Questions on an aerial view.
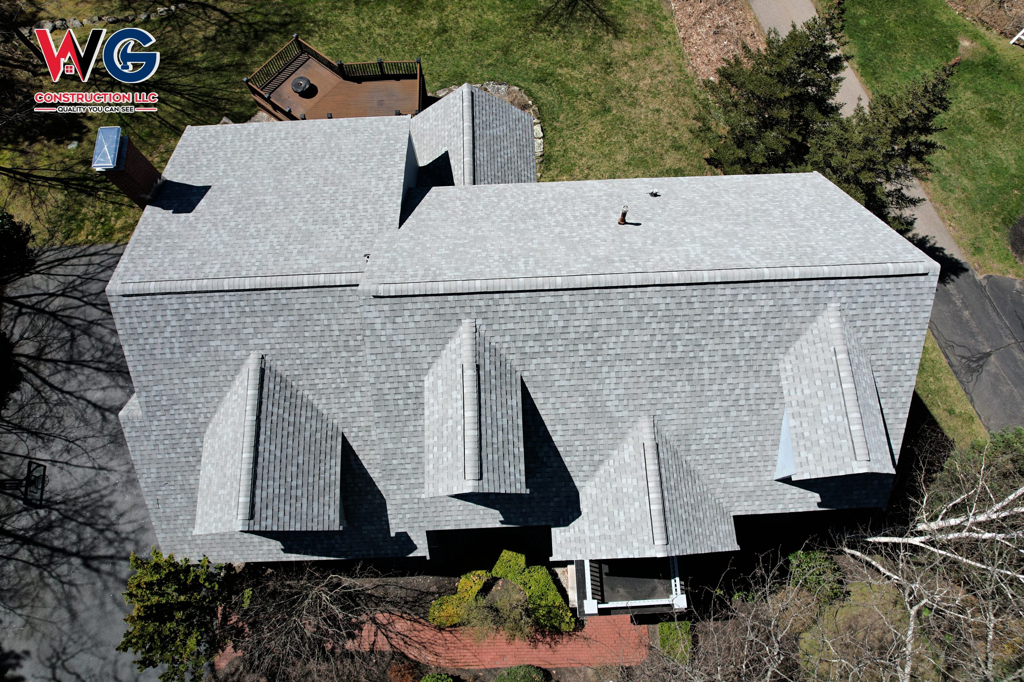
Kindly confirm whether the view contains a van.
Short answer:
No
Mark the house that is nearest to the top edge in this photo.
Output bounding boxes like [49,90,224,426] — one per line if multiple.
[92,82,942,568]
